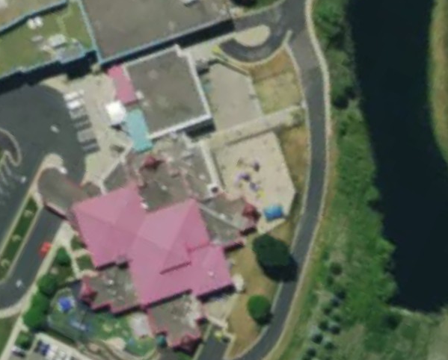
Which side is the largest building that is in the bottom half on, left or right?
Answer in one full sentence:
You can find the largest building that is in the bottom half on the left side of the picture.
